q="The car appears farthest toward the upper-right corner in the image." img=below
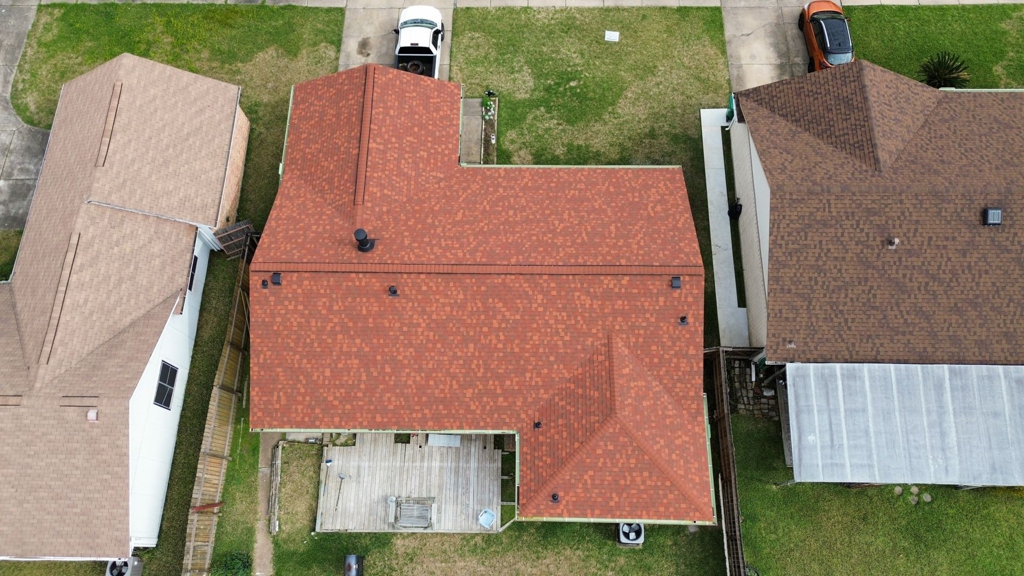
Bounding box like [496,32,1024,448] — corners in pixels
[798,1,858,73]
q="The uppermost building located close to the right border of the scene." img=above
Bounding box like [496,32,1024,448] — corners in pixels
[723,61,1024,370]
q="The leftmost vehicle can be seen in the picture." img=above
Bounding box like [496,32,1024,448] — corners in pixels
[392,3,448,80]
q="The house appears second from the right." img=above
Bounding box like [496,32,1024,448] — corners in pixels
[249,64,716,524]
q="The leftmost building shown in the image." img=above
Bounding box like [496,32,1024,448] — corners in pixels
[0,56,249,561]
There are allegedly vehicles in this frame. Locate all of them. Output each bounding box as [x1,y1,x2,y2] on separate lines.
[798,1,858,73]
[392,3,448,80]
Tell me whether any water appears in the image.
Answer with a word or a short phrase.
No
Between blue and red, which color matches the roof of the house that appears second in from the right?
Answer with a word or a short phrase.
red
